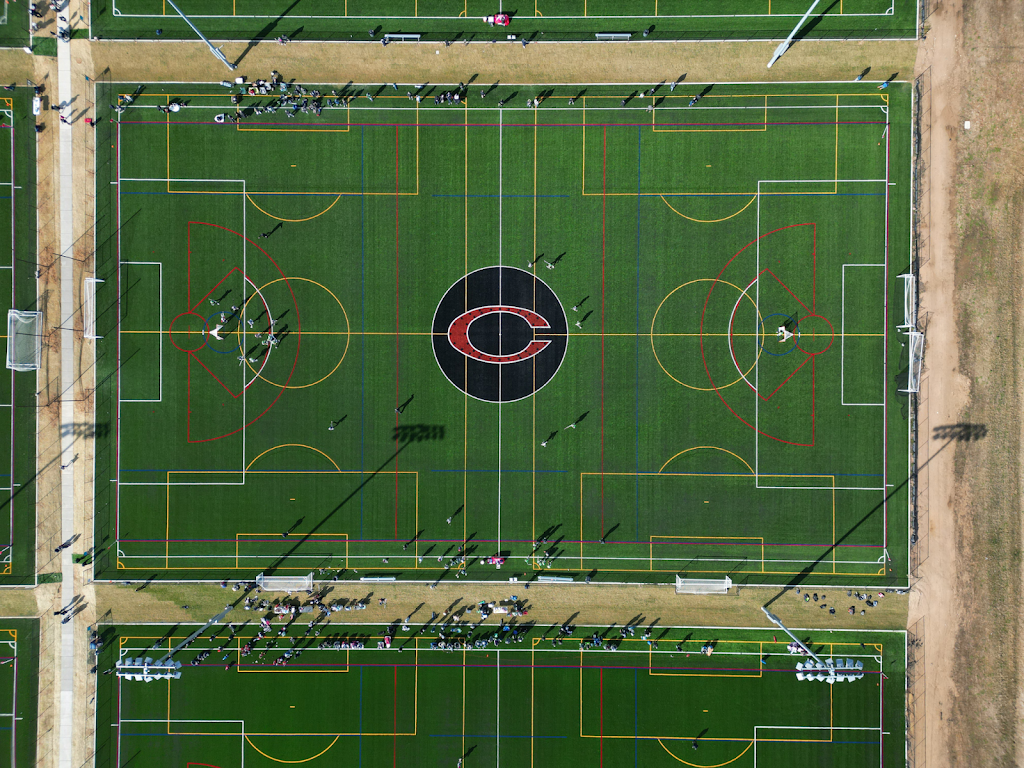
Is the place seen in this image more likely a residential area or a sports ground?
sports ground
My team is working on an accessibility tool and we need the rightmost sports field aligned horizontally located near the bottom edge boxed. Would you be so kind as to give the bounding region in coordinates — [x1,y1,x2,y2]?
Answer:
[94,624,908,768]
